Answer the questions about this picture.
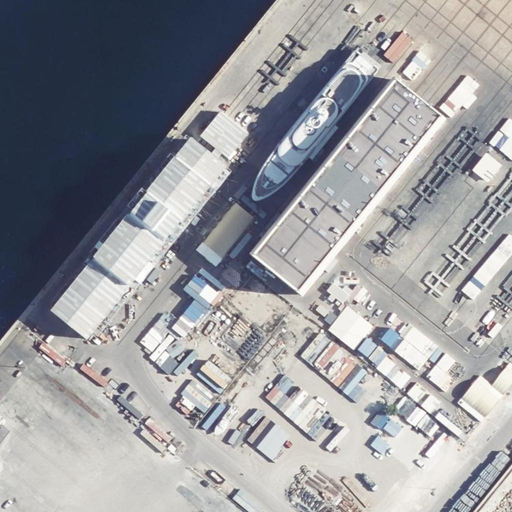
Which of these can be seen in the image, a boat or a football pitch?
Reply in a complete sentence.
Looking from above, you can make out a boat.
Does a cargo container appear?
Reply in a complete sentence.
Yes, there is a cargo container in the image.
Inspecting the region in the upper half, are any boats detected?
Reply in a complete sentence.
Yes, a boat can be seen in the upper half.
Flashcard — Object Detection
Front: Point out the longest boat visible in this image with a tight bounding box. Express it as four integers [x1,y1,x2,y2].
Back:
[252,49,380,200]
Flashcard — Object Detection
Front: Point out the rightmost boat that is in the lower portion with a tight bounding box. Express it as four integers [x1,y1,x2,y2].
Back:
[329,359,343,374]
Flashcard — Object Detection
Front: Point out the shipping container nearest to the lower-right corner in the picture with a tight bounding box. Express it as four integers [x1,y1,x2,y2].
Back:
[434,412,464,438]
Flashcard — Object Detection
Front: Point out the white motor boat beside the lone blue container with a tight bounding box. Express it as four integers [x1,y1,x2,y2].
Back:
[216,408,238,433]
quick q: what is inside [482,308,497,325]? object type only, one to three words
vehicle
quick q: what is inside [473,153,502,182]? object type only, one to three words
shed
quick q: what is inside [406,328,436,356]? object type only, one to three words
building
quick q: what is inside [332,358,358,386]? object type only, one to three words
shipping container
